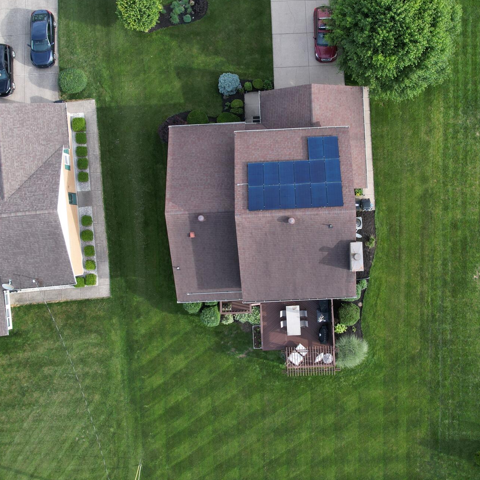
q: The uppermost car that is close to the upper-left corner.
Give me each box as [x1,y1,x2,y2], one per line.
[25,10,57,70]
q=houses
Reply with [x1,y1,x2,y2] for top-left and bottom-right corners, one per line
[0,102,85,336]
[164,84,369,305]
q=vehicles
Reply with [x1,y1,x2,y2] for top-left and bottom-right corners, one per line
[311,5,339,63]
[0,42,17,98]
[25,10,57,70]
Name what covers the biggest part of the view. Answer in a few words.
grass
